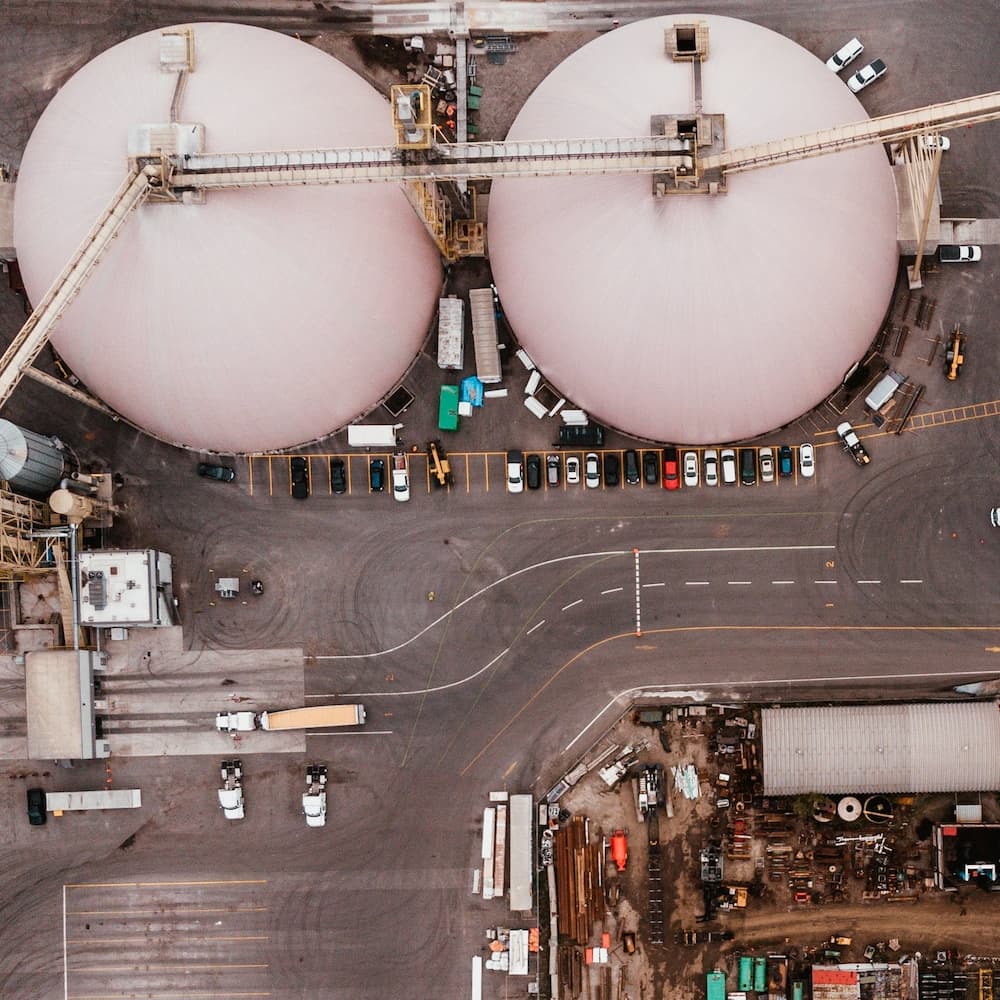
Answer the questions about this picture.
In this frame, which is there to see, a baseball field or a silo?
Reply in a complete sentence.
There is a silo in the scene.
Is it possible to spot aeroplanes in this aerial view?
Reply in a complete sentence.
No, the scene contains no aeroplane.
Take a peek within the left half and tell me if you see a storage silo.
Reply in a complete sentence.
Yes, a storage silo is visible within the left half.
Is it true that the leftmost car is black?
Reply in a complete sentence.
Yes, the leftmost car is black.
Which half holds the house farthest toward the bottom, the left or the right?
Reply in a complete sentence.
The house farthest toward the bottom appears in the right half of the scene.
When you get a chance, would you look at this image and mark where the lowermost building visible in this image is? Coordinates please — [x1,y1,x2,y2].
[812,963,905,1000]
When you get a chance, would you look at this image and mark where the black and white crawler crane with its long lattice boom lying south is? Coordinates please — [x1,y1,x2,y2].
[632,755,668,946]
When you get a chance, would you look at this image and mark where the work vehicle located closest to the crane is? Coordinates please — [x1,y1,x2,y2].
[709,888,749,908]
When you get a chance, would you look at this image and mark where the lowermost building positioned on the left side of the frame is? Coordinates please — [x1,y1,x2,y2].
[79,550,182,632]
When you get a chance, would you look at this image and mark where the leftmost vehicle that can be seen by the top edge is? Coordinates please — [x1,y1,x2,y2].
[401,31,425,51]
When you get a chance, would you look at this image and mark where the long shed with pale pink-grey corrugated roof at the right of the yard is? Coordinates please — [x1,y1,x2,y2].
[763,701,1000,796]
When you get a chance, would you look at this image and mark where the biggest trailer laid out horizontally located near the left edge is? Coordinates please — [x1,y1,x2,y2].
[47,789,146,811]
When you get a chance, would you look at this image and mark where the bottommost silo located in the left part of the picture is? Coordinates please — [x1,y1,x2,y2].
[50,489,104,529]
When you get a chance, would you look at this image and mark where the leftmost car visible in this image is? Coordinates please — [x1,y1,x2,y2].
[26,788,48,826]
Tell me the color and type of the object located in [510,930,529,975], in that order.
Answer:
white trailer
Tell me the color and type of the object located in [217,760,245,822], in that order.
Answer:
white truck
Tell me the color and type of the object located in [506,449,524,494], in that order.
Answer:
white vehicle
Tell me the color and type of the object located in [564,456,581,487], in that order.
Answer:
white car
